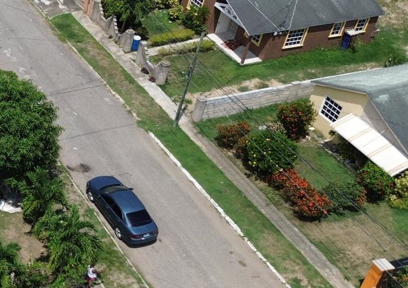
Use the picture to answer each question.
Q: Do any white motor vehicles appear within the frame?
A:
No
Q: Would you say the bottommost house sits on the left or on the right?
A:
right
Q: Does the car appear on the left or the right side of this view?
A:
left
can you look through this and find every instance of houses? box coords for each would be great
[184,0,389,66]
[309,64,408,184]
